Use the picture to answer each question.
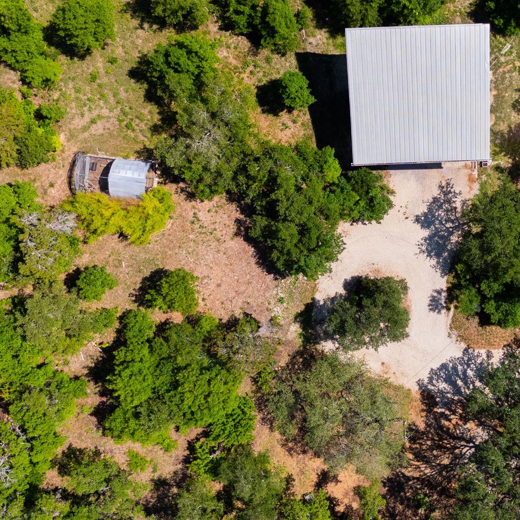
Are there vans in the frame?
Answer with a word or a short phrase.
No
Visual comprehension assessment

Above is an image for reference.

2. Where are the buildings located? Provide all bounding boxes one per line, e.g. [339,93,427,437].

[76,155,164,201]
[345,22,493,167]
